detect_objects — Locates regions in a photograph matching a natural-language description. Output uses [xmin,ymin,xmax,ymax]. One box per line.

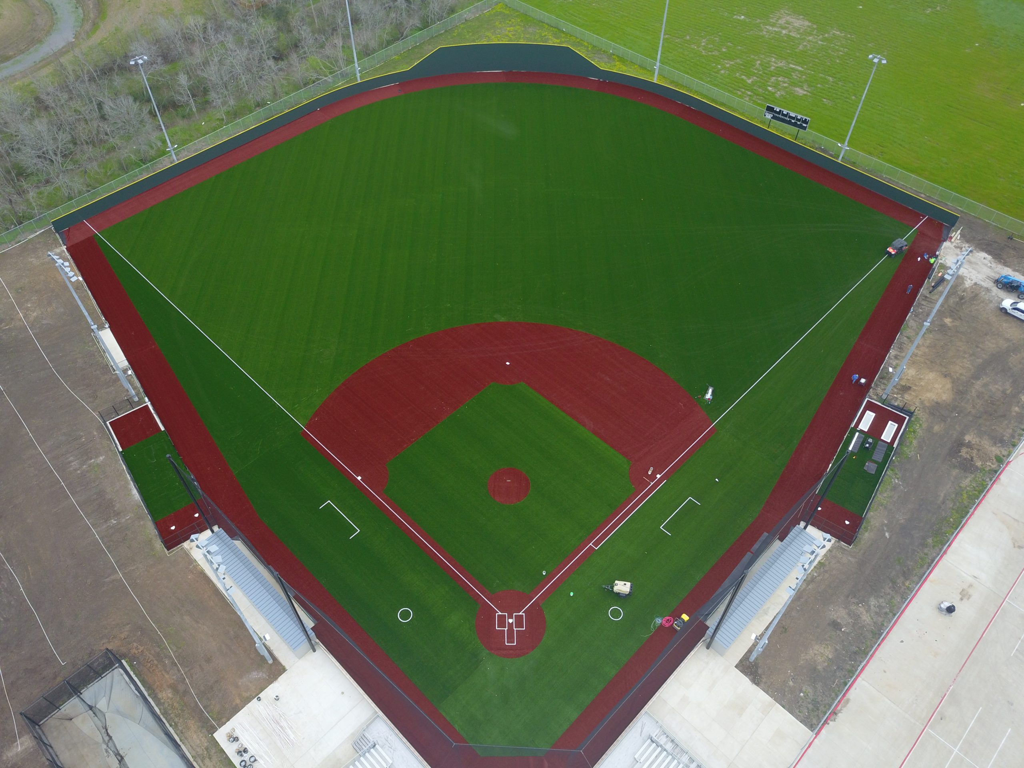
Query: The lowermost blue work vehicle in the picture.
[986,275,1024,299]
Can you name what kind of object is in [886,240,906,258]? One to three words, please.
vehicle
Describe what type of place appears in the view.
sports ground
